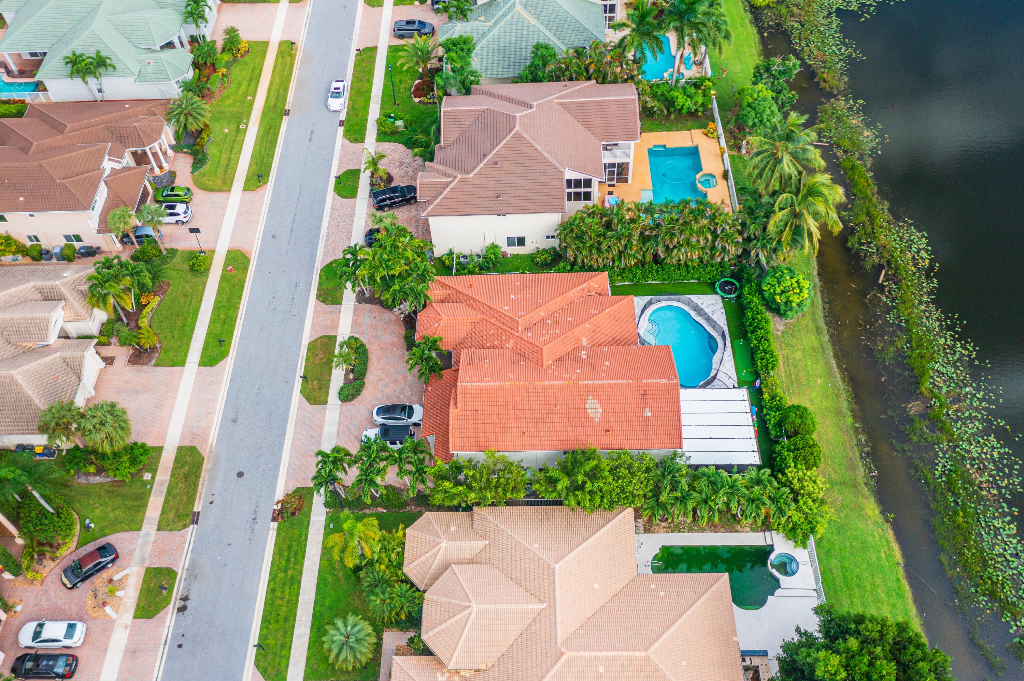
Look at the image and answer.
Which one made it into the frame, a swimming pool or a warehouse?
swimming pool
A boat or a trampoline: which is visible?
trampoline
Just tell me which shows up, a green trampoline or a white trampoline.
green trampoline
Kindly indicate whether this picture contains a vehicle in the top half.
Yes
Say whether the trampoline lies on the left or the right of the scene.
right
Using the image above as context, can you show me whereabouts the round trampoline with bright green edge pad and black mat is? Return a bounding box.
[712,274,743,311]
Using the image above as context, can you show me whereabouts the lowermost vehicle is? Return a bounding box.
[9,649,82,681]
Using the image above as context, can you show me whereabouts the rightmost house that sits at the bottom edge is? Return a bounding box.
[391,503,745,681]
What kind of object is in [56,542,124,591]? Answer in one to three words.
car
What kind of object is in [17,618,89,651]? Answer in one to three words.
car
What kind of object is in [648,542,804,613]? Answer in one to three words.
swimming pool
